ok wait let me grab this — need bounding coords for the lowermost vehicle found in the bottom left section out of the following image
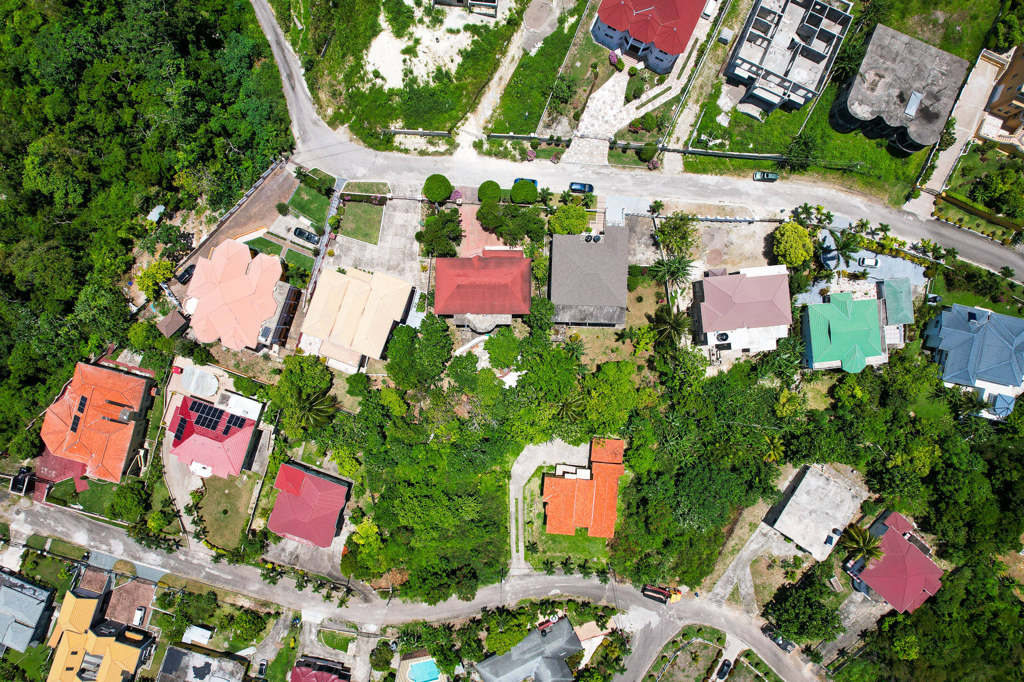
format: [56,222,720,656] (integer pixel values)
[257,656,271,680]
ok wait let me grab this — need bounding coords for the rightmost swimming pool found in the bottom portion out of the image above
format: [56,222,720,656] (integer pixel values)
[402,659,441,682]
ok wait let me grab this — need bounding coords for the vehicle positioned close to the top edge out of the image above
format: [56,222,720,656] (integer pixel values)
[698,0,718,24]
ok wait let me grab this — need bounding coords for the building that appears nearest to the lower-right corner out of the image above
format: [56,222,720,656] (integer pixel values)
[843,508,944,615]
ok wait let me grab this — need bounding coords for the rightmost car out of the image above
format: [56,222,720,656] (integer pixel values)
[857,257,881,269]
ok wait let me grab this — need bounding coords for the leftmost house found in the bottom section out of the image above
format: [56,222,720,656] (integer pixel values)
[0,565,64,653]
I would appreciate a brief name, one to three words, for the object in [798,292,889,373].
building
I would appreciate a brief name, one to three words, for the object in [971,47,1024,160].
house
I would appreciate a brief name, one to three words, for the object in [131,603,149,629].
vehicle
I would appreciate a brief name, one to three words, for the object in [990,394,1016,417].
gazebo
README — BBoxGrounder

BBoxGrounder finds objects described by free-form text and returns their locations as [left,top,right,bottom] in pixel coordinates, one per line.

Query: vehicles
[175,263,196,287]
[698,0,718,24]
[257,656,271,680]
[293,227,320,244]
[641,580,684,607]
[714,656,733,682]
[569,182,594,195]
[131,603,149,629]
[761,620,792,656]
[857,257,881,269]
[752,170,779,183]
[13,468,29,491]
